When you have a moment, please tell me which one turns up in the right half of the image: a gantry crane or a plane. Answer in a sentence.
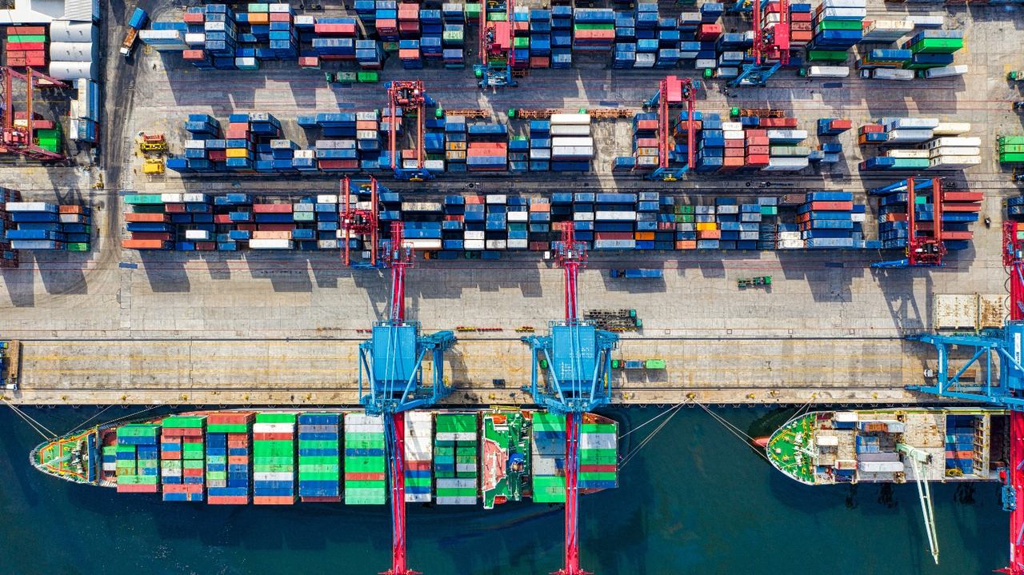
You can see a gantry crane in the right half of the image.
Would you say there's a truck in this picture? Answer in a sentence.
Yes, you can see a truck in this photo.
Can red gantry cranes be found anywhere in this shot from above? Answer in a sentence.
Yes, a red gantry crane appears in the view.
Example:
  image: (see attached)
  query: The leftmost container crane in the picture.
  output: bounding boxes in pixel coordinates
[2,62,76,163]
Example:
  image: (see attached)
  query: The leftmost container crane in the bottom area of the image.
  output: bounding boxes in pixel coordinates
[359,224,457,575]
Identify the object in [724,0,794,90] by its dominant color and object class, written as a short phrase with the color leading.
red container crane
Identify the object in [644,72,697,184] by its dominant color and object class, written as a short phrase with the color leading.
red container crane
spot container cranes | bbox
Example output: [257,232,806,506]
[864,173,944,272]
[2,62,76,163]
[520,223,619,575]
[478,0,517,90]
[341,174,396,272]
[724,0,794,90]
[387,75,437,185]
[904,223,1024,575]
[644,72,697,184]
[359,224,457,575]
